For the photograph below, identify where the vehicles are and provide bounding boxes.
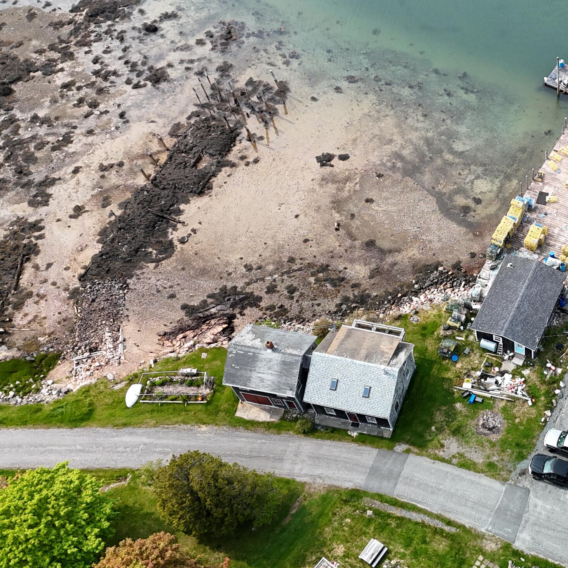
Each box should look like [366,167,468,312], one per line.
[528,456,568,488]
[540,430,568,458]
